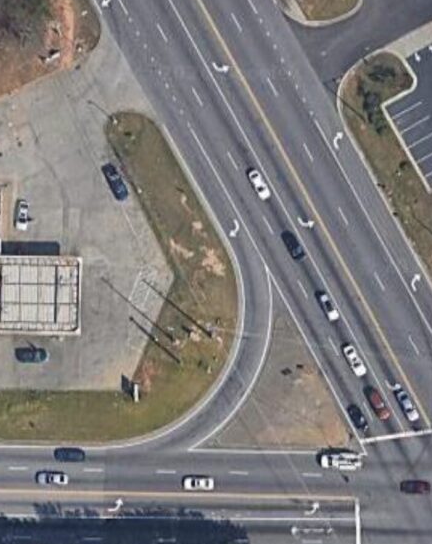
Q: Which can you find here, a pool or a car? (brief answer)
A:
car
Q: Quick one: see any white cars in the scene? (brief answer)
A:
Yes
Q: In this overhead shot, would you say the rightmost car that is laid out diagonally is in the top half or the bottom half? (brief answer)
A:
bottom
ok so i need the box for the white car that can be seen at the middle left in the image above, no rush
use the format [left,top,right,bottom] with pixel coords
[16,200,33,229]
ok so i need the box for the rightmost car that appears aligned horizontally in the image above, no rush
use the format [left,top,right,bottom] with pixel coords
[400,480,430,494]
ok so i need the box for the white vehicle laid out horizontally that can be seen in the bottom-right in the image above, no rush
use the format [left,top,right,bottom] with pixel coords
[319,453,361,469]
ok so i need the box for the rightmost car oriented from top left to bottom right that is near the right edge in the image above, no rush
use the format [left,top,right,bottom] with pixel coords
[393,388,418,421]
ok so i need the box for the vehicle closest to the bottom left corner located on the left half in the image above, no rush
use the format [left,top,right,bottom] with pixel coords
[37,472,68,485]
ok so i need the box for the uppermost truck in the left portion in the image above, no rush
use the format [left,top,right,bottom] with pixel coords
[102,164,127,200]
